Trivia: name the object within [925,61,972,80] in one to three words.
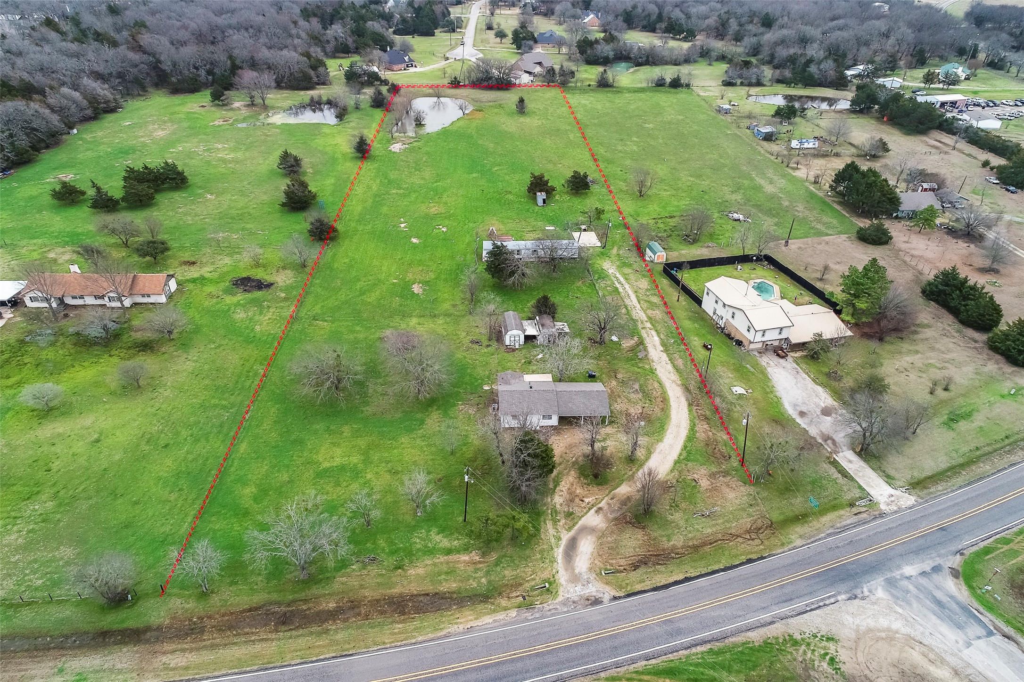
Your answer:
building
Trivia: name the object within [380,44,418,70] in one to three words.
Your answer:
house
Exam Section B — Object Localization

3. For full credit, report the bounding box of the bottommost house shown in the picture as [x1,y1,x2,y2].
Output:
[497,368,606,431]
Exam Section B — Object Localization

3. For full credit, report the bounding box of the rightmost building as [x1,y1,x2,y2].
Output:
[974,112,1005,130]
